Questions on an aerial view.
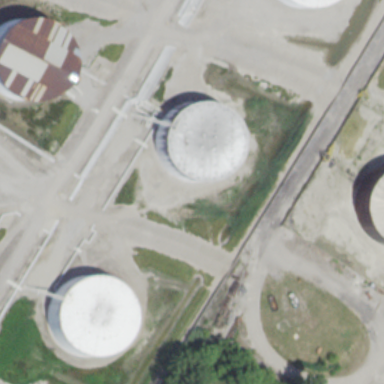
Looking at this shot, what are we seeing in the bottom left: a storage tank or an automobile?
storage tank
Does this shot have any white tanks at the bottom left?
Yes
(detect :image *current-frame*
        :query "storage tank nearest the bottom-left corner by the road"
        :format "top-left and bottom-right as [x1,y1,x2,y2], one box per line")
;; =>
[23,272,142,362]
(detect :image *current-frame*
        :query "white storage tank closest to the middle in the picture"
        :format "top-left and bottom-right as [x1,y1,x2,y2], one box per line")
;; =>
[133,97,249,186]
